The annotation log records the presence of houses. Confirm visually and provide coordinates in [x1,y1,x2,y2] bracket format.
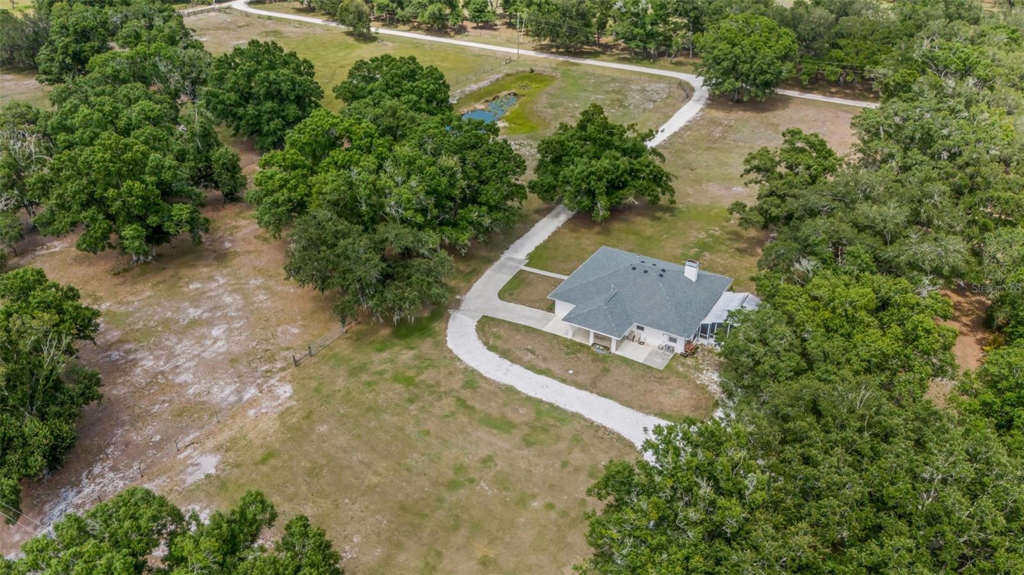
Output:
[547,246,759,355]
